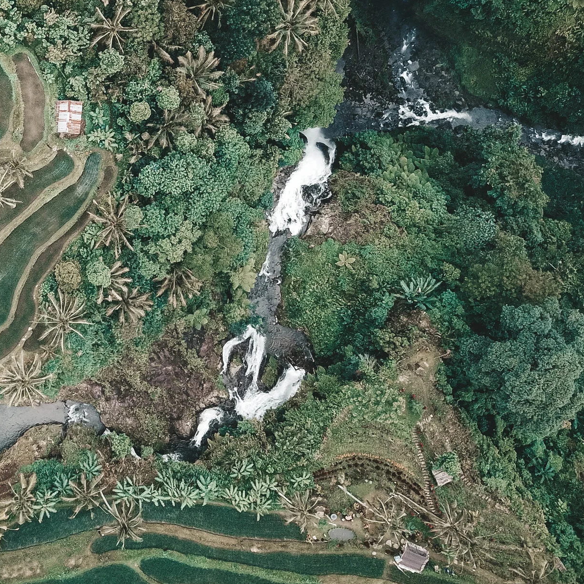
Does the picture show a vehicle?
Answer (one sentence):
No, I find no vehicle anywhere in the image.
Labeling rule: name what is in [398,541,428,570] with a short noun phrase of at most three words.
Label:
shed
